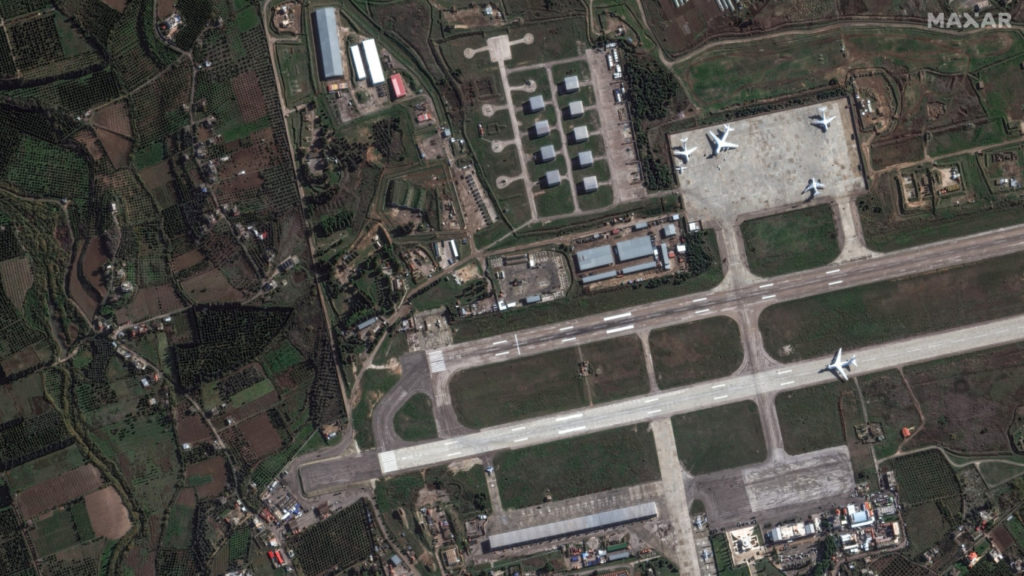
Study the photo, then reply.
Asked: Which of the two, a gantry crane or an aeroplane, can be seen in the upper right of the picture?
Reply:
aeroplane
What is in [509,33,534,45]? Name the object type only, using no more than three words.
helipad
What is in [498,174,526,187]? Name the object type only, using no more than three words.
helipad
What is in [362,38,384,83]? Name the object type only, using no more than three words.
building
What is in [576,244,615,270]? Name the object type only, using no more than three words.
hangar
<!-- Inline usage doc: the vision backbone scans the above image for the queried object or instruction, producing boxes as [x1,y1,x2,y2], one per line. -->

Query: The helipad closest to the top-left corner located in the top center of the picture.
[464,46,489,58]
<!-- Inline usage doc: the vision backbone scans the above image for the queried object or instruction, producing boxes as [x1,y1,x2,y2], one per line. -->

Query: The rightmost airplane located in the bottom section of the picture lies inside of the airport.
[825,346,858,378]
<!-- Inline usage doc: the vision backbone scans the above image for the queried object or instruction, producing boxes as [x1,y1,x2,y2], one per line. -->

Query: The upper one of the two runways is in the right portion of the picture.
[428,226,1024,375]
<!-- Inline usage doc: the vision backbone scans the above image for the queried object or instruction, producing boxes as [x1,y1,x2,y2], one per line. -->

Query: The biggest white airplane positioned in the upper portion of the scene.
[710,122,740,155]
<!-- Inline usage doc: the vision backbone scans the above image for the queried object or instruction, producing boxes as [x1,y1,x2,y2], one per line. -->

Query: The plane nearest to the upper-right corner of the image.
[811,104,837,132]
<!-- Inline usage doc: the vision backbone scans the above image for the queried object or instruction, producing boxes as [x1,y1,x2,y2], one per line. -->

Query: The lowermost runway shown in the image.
[378,316,1024,476]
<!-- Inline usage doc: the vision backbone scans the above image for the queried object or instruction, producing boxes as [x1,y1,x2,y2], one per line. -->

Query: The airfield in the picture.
[276,35,1024,576]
